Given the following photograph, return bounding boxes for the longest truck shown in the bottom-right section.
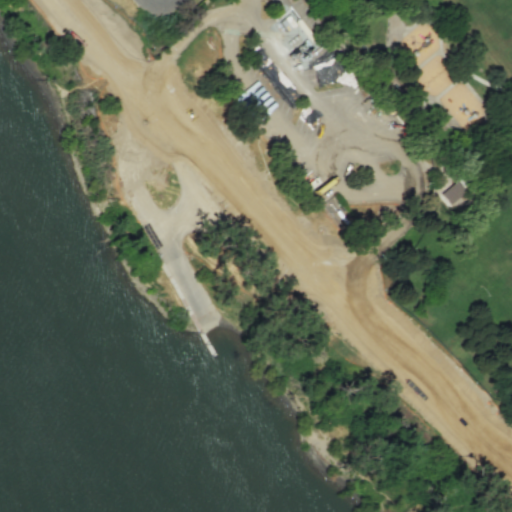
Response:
[406,378,429,400]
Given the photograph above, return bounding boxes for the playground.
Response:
[404,24,486,127]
